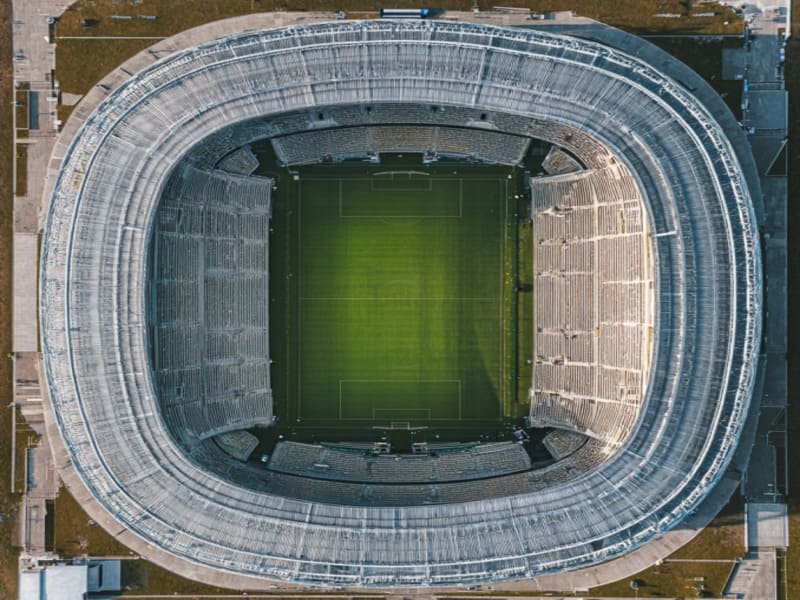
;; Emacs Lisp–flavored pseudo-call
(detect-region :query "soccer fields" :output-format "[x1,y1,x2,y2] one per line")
[287,168,505,433]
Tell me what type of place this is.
sports ground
